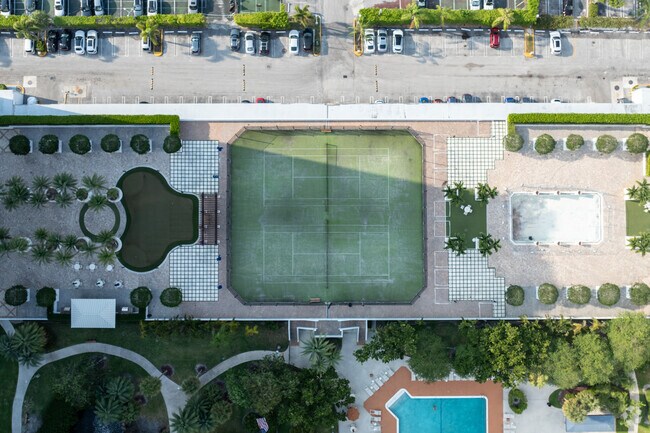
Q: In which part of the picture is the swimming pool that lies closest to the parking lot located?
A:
right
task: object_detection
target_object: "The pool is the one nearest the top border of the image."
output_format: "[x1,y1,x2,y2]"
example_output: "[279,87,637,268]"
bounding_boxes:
[510,193,602,244]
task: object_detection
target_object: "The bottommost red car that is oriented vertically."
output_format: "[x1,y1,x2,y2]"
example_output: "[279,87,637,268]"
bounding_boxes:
[488,26,500,50]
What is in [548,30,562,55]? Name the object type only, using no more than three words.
vehicle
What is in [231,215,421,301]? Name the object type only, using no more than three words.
tennis court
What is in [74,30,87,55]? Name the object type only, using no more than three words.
vehicle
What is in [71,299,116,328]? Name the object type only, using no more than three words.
gazebo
